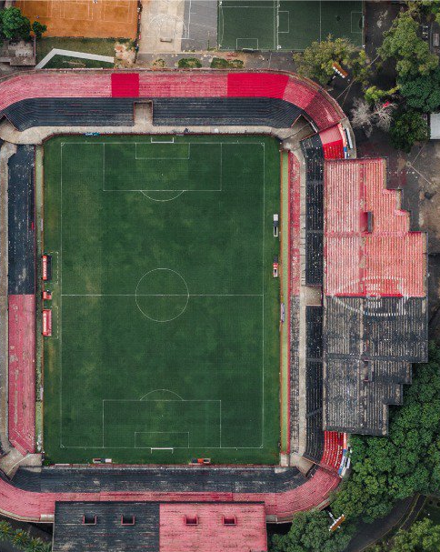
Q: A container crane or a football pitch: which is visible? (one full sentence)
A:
I can see a football pitch in this picture.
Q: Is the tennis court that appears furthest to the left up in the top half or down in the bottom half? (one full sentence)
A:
The tennis court that appears furthest to the left sits in the top half of the picture.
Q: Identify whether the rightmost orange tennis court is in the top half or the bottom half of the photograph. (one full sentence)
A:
It is in the top half that the rightmost orange tennis court appears.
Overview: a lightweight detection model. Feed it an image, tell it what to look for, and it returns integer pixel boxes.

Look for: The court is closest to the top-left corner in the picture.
[16,0,56,37]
